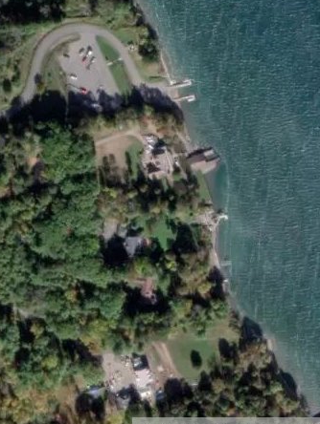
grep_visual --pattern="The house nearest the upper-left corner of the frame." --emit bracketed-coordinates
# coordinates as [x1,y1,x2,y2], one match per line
[146,144,173,177]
